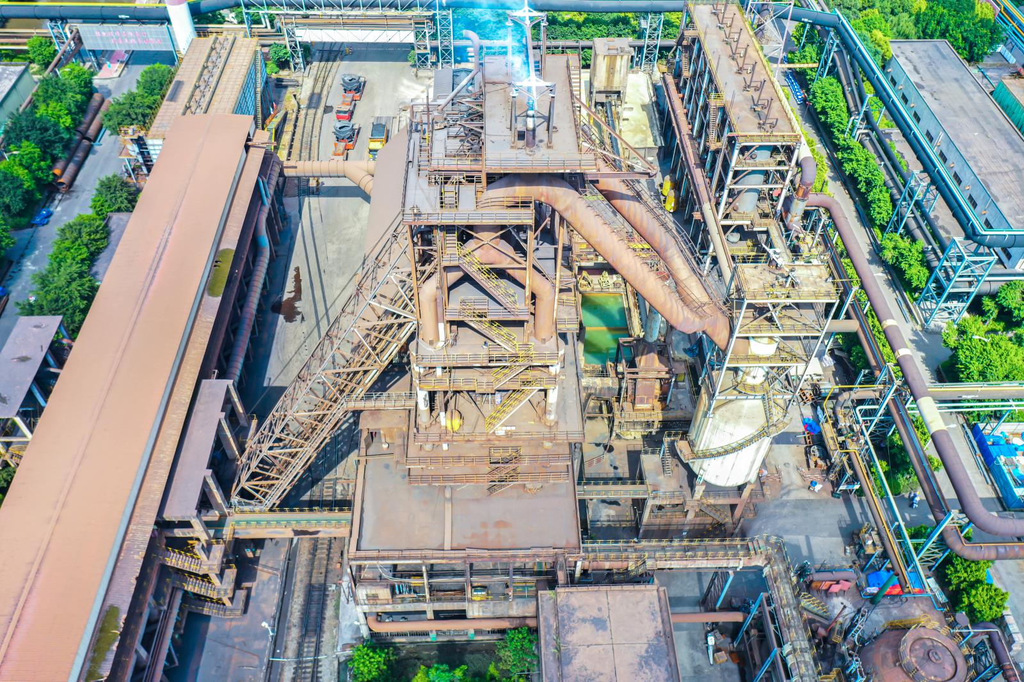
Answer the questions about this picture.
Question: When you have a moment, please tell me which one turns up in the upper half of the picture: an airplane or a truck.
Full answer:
There is a truck in the upper half of the picture.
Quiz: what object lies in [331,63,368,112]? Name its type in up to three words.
truck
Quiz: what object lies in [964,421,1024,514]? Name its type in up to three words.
building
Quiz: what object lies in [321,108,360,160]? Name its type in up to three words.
truck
